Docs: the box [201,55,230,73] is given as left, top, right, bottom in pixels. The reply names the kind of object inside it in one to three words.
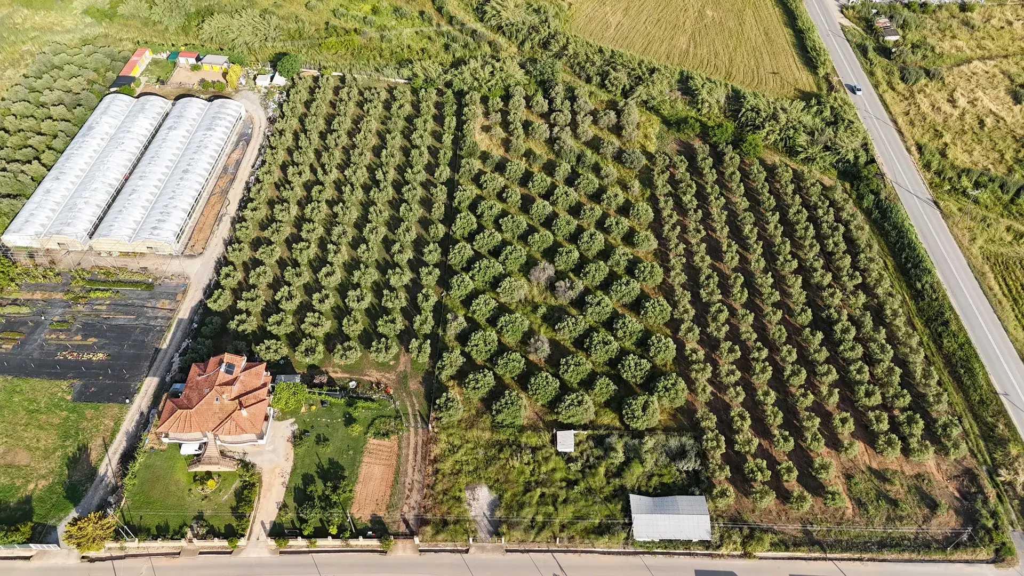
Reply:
shed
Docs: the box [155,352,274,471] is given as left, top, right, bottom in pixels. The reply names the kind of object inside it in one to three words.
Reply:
house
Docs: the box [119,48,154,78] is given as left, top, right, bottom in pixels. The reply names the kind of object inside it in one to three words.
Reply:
building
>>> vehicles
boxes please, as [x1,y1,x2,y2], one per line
[853,84,864,95]
[175,445,204,456]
